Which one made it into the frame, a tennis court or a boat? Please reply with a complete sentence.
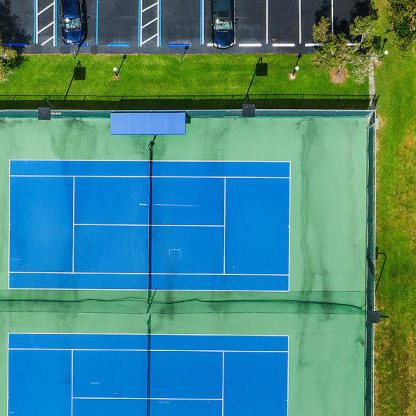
Visible in the photo is a tennis court.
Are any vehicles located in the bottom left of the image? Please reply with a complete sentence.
No, the scene shows no vehicle in the bottom left of the image.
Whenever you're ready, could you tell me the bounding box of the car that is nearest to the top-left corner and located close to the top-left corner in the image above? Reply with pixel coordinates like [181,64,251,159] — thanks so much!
[58,0,85,45]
